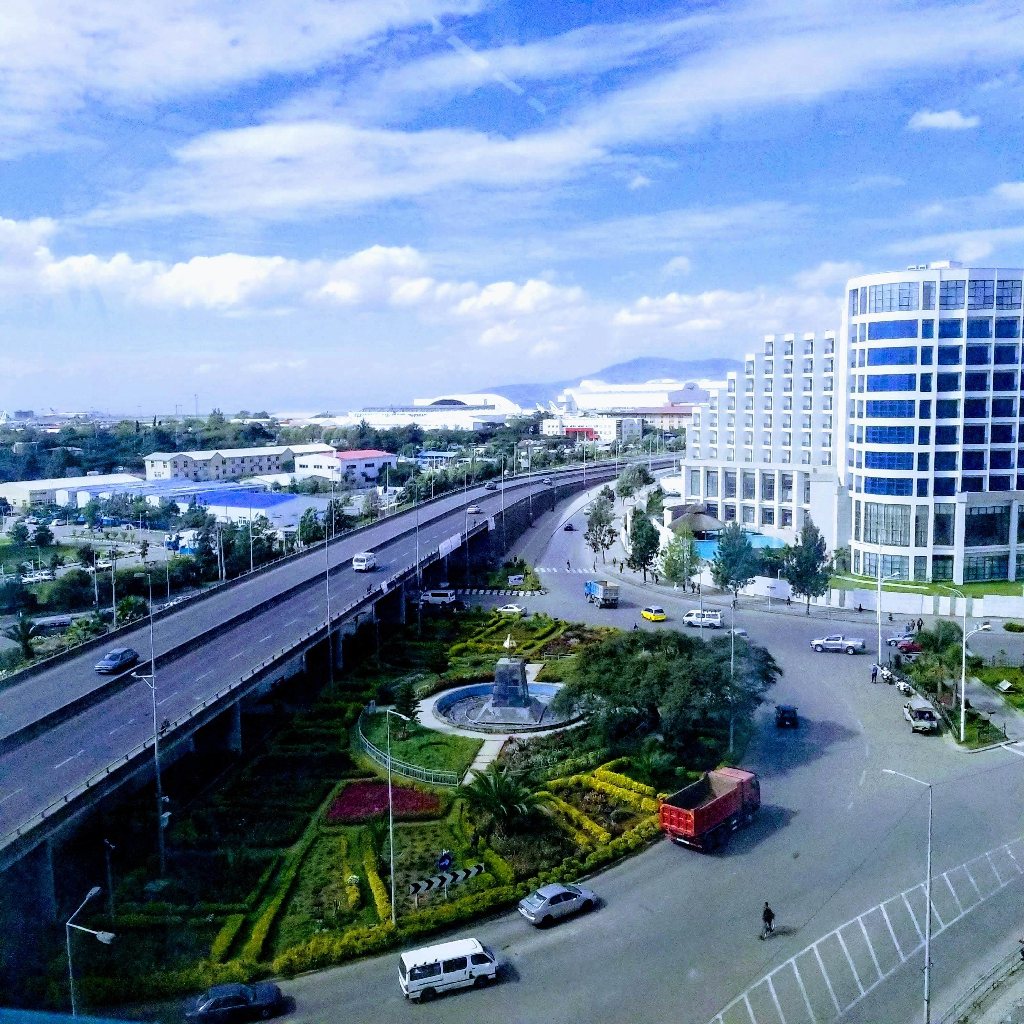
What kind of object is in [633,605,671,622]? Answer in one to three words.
car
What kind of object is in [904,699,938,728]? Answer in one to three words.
truck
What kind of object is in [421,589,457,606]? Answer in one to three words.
vehicle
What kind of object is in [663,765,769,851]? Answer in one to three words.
truck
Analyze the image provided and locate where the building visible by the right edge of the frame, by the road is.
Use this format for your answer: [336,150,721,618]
[667,264,1024,583]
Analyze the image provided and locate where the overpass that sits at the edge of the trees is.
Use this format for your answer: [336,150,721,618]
[0,457,676,908]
